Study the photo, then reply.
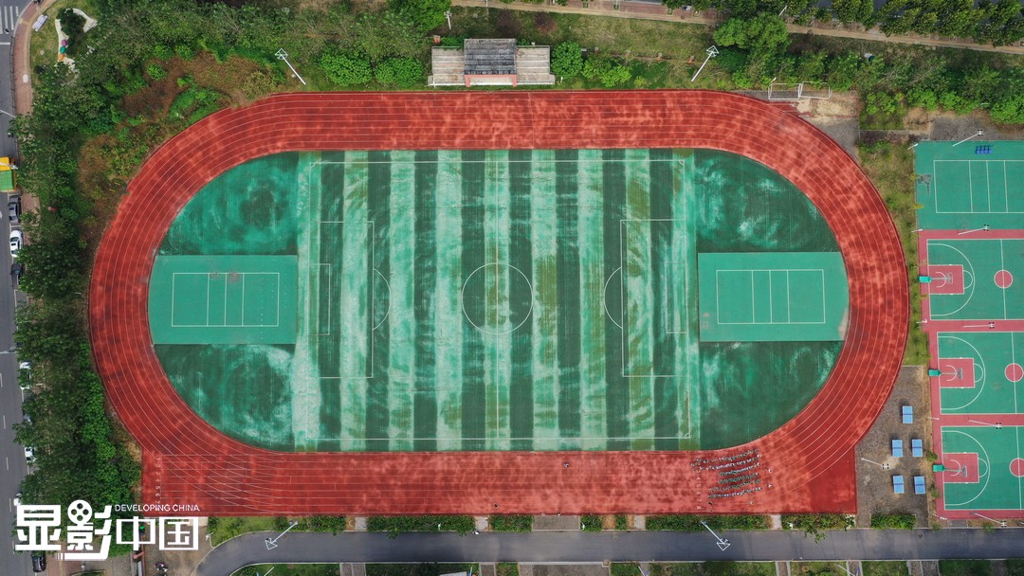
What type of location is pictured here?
sports ground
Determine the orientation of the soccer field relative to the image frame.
from side to side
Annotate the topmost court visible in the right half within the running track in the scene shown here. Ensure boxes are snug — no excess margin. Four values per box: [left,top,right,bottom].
[698,252,850,341]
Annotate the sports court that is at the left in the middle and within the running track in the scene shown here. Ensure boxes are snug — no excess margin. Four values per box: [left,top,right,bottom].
[149,255,298,344]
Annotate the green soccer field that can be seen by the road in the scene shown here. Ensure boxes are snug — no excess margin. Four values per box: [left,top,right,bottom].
[148,150,850,451]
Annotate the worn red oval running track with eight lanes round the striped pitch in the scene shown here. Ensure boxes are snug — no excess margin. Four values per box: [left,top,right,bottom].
[90,93,909,519]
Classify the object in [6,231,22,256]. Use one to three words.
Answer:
car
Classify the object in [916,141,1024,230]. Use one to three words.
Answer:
sports court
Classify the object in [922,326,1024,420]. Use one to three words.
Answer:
basketball court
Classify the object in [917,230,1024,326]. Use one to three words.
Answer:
basketball court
